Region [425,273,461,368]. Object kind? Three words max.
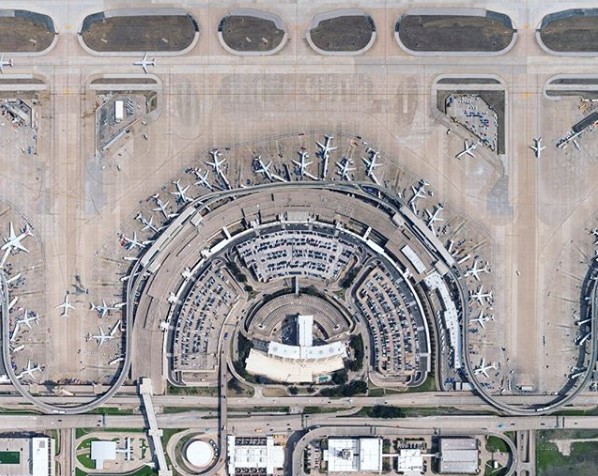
building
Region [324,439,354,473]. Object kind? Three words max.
building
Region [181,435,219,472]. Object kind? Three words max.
storage tank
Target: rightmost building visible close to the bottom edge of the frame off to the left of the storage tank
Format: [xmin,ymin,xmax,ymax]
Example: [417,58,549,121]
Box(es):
[91,442,121,470]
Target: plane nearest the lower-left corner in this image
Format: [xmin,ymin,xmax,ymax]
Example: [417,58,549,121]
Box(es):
[19,360,42,380]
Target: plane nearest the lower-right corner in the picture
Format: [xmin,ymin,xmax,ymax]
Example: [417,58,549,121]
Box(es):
[478,357,498,378]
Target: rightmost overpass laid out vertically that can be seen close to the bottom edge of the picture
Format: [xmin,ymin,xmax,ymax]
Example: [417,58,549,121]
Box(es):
[180,345,228,476]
